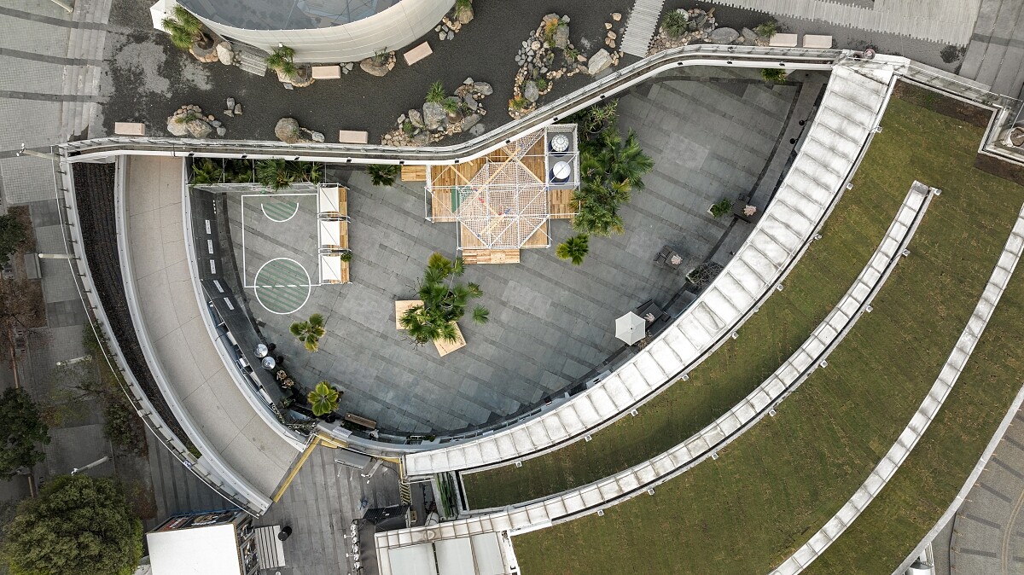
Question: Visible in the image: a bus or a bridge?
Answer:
bridge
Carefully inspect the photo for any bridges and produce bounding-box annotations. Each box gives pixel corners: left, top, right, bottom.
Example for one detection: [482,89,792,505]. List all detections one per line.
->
[56,44,841,168]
